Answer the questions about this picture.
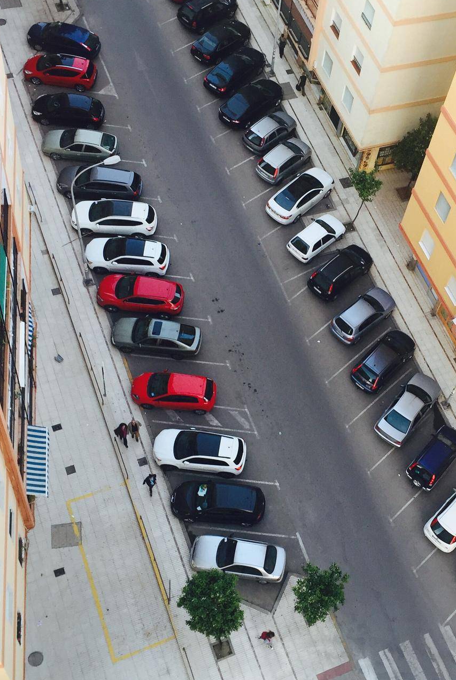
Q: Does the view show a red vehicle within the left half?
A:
Yes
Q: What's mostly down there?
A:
paved ground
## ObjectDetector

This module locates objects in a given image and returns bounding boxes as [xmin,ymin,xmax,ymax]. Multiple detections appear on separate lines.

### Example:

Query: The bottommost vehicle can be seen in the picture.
[190,536,289,588]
